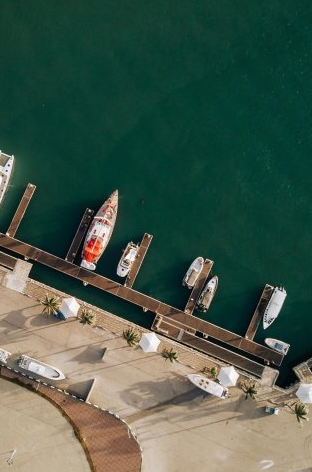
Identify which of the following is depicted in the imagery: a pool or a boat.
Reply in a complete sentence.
Of the two, only a boat appears.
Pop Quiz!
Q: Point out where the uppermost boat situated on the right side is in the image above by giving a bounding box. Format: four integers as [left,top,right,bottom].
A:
[186,258,203,287]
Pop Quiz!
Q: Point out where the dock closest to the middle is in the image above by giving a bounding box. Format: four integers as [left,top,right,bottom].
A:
[123,233,153,289]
